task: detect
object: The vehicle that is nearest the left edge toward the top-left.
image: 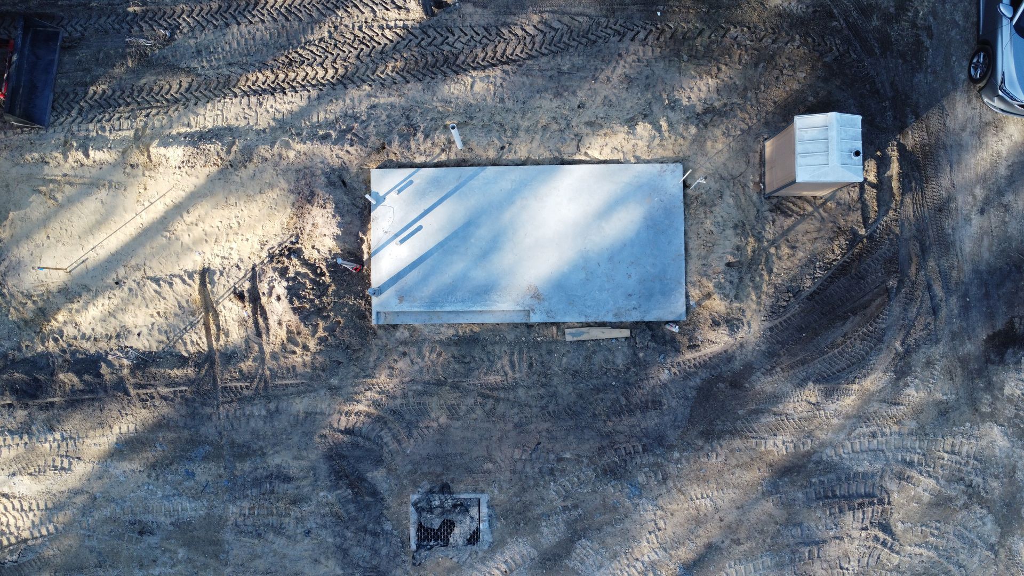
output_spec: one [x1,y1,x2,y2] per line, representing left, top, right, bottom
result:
[0,18,62,129]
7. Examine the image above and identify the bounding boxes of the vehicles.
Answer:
[972,0,1024,121]
[0,18,62,129]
